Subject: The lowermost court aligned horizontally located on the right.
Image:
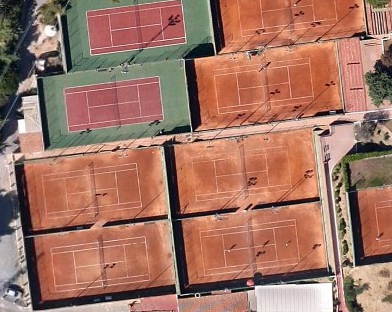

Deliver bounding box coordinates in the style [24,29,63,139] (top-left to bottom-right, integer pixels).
[174,201,329,293]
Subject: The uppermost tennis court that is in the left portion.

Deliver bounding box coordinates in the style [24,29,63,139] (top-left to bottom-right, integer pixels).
[62,0,214,74]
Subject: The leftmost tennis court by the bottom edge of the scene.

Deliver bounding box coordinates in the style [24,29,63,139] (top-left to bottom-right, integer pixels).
[25,220,178,310]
